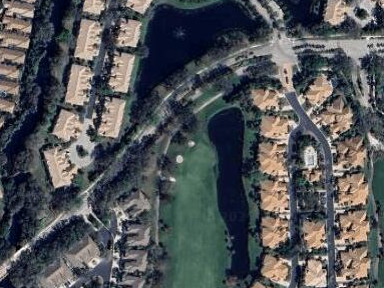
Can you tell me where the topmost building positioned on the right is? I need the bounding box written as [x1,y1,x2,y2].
[320,0,346,25]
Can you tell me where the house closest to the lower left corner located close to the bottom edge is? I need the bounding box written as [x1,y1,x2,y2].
[37,257,76,288]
